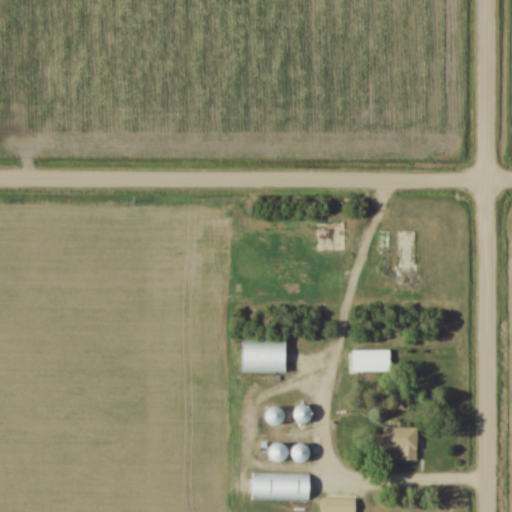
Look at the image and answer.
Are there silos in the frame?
Yes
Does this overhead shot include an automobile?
No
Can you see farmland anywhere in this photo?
Yes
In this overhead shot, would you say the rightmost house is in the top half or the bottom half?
bottom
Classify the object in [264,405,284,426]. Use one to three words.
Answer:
silo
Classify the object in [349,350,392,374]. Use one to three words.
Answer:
shed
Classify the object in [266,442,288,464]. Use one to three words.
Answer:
silo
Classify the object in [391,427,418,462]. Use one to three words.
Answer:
house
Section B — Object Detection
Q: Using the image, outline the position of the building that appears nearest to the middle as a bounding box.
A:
[242,342,286,373]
